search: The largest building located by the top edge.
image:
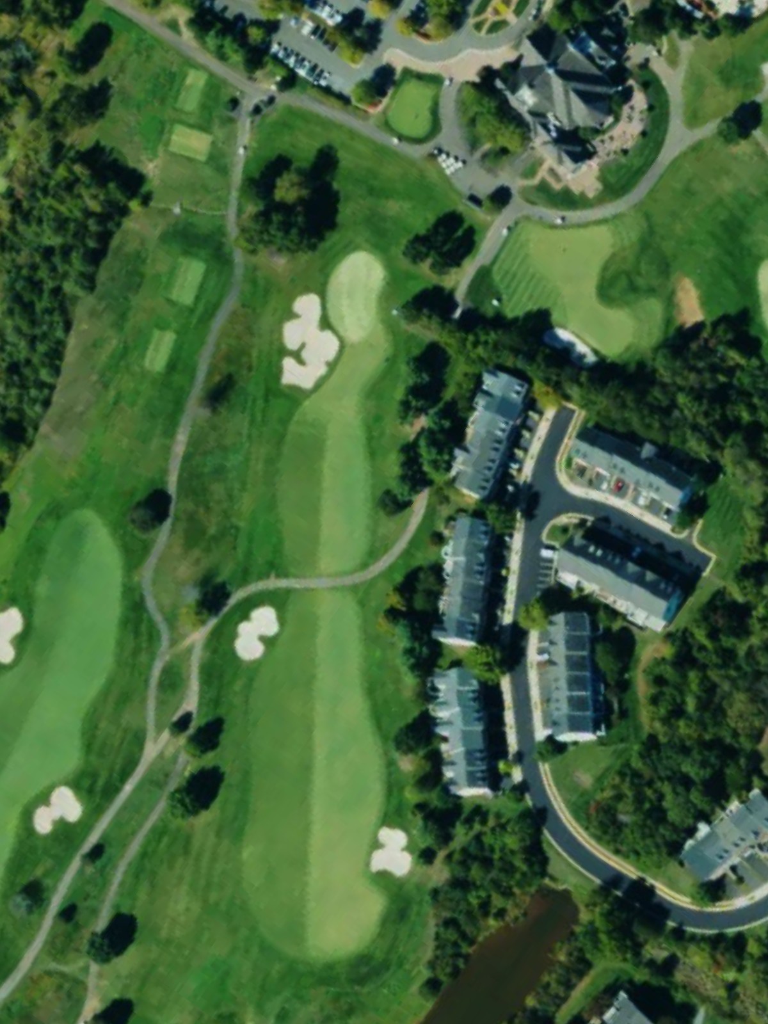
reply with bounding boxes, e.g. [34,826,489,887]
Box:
[512,31,627,181]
